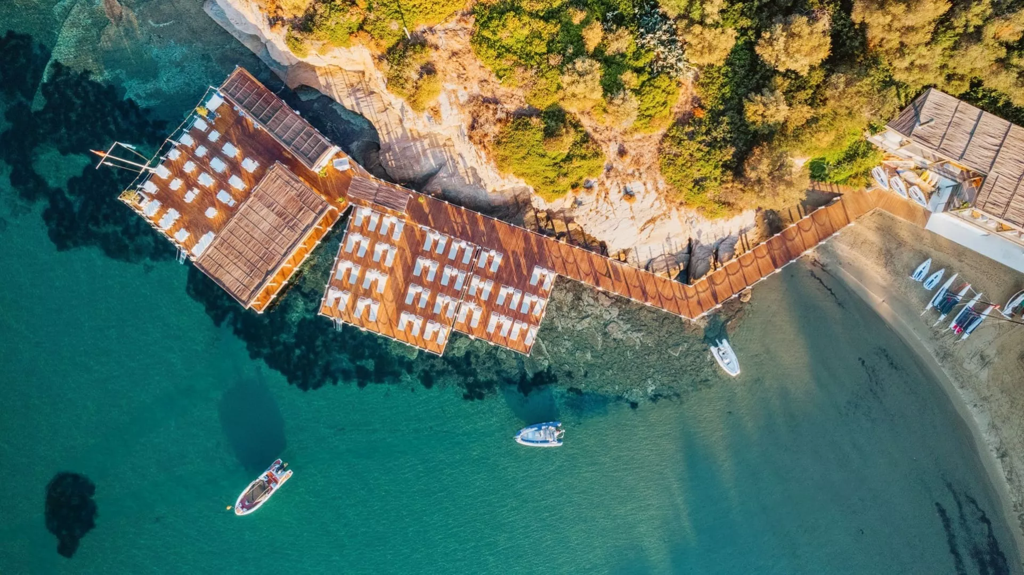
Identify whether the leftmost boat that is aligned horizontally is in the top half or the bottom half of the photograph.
bottom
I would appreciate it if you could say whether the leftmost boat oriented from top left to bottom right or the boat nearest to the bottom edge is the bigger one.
the boat nearest to the bottom edge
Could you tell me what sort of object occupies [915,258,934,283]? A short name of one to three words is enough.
boat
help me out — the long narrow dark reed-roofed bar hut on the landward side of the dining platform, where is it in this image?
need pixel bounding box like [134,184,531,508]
[213,62,343,173]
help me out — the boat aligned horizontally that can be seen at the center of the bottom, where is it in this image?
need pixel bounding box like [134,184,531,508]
[514,420,563,445]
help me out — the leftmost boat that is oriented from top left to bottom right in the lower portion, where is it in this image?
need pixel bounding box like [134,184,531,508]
[710,338,738,375]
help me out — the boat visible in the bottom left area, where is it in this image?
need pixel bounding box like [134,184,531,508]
[237,458,293,514]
